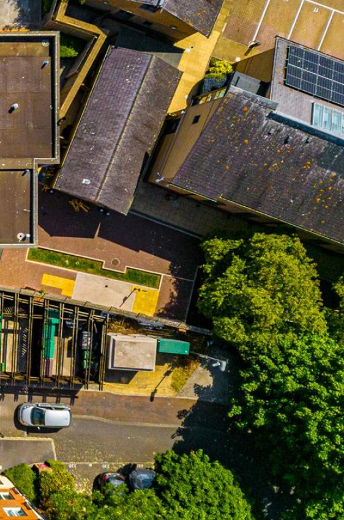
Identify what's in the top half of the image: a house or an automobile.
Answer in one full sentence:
The feature located in the top half of the image is a house.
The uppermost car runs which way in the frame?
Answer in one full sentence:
The uppermost car has been laid out horizontally relative to the frame.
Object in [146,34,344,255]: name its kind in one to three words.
house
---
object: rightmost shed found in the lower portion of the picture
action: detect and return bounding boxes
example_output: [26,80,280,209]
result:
[100,334,157,372]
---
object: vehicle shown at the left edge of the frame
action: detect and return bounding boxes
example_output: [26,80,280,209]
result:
[15,402,73,432]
